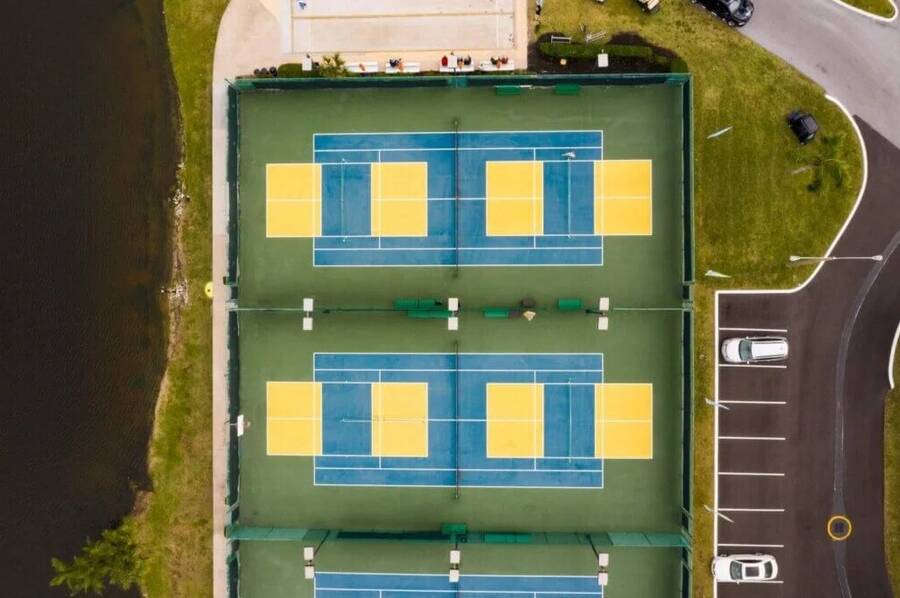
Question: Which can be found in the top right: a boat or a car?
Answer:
car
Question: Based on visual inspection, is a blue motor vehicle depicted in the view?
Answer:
No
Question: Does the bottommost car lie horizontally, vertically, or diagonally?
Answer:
horizontally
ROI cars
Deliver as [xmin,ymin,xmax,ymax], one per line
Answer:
[687,0,750,26]
[712,553,778,584]
[720,335,789,365]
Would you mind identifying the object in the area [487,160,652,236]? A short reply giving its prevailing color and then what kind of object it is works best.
yellow sports court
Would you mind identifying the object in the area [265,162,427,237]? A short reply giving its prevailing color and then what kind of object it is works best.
yellow sports court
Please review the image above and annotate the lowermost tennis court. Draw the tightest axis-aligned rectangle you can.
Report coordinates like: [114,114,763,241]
[242,530,684,598]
